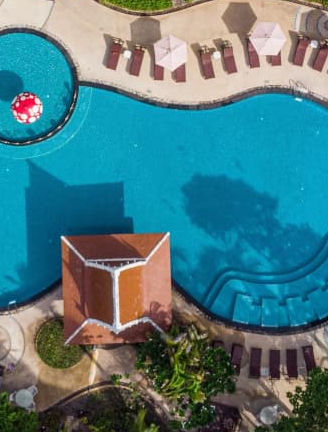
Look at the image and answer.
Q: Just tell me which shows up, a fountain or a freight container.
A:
fountain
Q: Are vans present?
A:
No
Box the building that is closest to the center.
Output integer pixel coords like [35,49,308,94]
[59,229,174,346]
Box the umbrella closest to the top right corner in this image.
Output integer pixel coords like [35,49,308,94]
[248,22,284,54]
